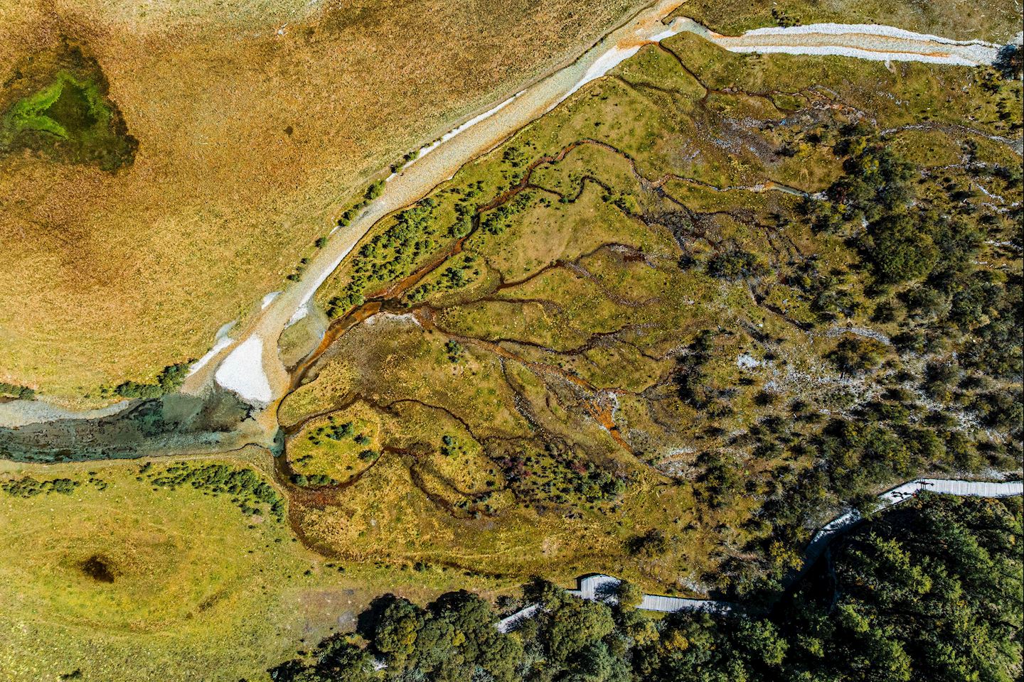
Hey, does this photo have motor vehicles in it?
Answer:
No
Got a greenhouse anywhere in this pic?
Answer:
No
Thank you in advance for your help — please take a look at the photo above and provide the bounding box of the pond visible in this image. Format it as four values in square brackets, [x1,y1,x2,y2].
[0,40,145,179]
